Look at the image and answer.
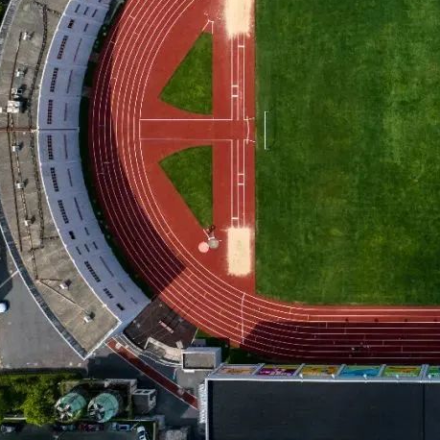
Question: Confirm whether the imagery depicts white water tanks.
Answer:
No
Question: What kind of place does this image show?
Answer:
sports ground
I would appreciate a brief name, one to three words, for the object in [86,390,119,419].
water tank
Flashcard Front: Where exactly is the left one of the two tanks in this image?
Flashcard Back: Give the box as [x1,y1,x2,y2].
[55,390,88,418]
